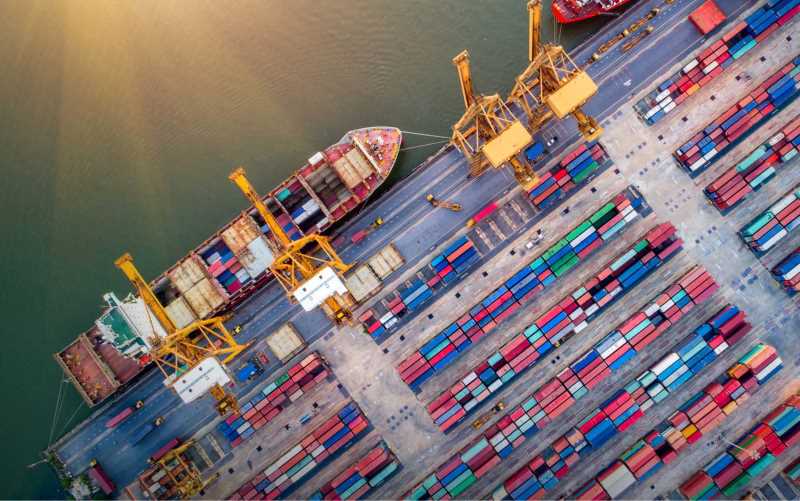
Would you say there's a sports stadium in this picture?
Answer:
No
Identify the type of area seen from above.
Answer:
port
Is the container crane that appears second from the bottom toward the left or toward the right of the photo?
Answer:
left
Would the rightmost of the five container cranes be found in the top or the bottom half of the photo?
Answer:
top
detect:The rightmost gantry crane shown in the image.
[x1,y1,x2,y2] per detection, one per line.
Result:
[498,0,605,142]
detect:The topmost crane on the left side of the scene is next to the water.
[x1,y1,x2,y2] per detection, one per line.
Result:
[224,167,359,332]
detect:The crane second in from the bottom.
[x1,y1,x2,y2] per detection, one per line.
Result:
[107,255,261,421]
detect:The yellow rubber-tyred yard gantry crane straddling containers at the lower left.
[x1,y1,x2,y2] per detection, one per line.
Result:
[130,439,222,501]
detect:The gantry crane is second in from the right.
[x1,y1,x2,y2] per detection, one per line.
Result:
[442,45,541,191]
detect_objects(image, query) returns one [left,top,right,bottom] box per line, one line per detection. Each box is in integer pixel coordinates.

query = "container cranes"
[224,167,359,332]
[442,45,541,191]
[107,255,261,421]
[498,0,605,142]
[130,439,222,501]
